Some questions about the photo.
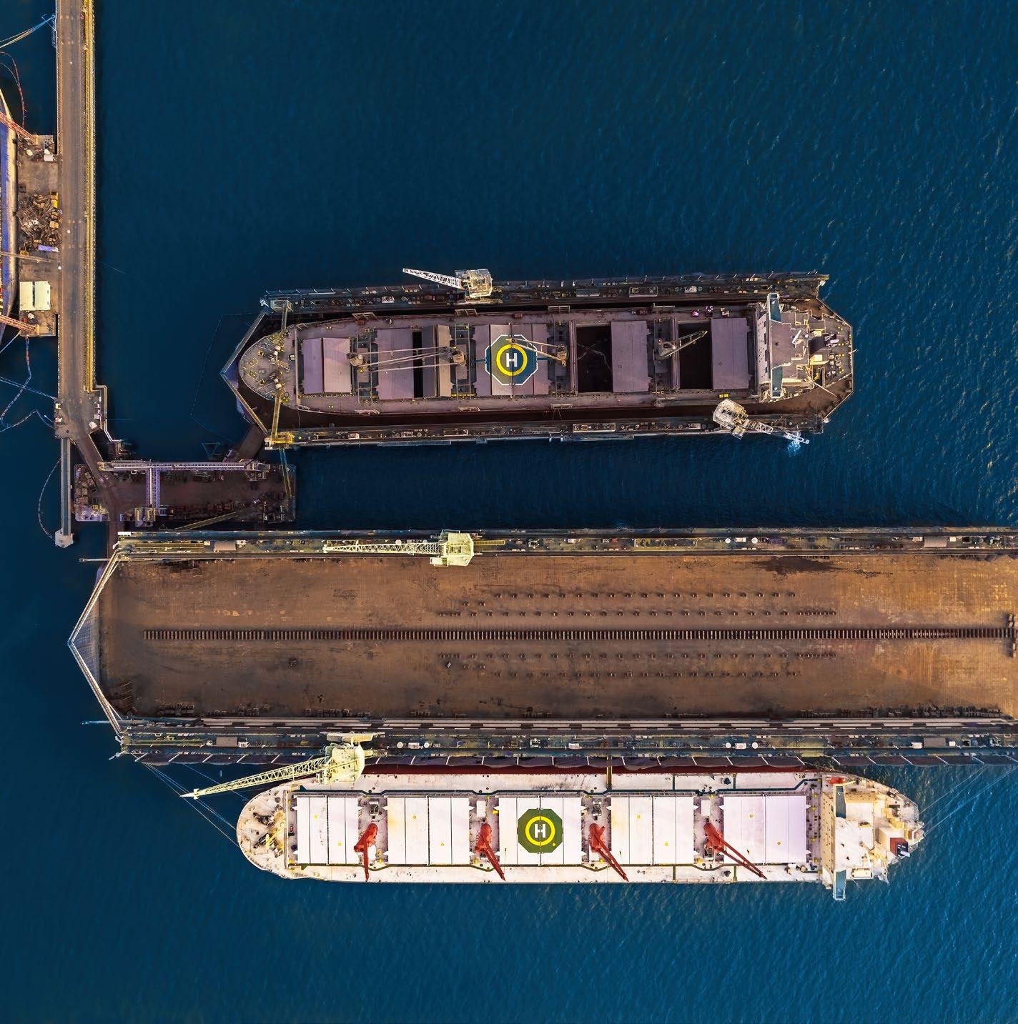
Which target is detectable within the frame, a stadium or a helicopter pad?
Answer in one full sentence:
Looking from above, you can make out a helicopter pad.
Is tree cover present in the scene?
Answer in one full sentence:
No, there's no tree cover in this view.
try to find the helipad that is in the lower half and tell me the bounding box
[518,808,563,853]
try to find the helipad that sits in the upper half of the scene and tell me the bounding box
[485,334,537,385]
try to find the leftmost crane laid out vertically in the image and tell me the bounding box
[357,821,378,882]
